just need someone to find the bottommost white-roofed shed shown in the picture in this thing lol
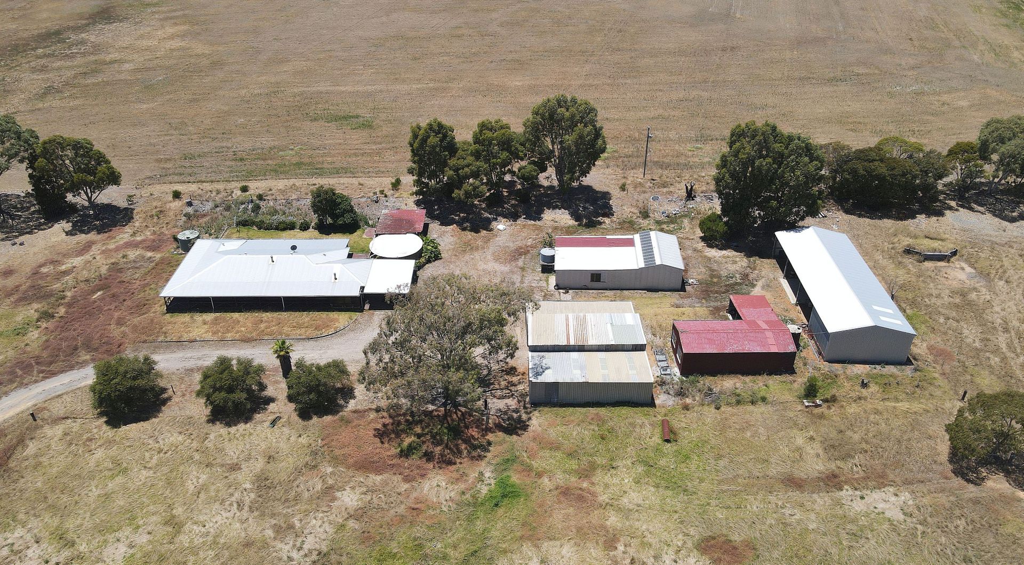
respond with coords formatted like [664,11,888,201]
[526,301,655,404]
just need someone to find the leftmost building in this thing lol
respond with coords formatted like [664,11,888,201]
[158,231,374,312]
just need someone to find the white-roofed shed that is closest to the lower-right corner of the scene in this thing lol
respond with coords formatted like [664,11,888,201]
[771,226,917,363]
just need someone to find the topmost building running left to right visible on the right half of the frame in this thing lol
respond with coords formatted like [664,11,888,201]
[554,229,684,289]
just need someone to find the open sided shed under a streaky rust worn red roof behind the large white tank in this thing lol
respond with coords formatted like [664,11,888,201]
[376,209,426,236]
